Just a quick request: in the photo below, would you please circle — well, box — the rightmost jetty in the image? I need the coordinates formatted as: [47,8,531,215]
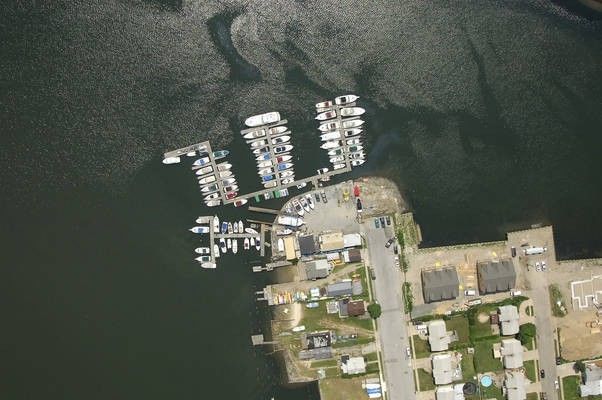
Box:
[317,102,365,172]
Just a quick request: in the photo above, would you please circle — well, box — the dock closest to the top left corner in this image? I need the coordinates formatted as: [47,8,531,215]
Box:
[163,141,240,205]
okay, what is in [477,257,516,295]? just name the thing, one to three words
building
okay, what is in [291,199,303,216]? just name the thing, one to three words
boat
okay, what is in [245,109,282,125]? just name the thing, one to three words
boat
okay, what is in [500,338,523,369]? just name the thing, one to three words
house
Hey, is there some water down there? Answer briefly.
Yes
